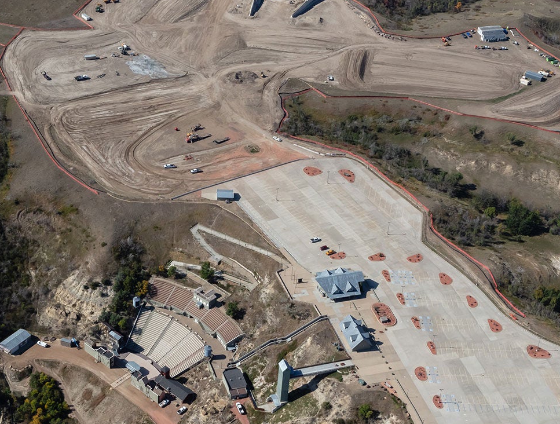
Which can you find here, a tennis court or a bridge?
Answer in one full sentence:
There is a bridge in the scene.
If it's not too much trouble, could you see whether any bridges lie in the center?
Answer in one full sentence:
No, looking in the center, there is no bridge.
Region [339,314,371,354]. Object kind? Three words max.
building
